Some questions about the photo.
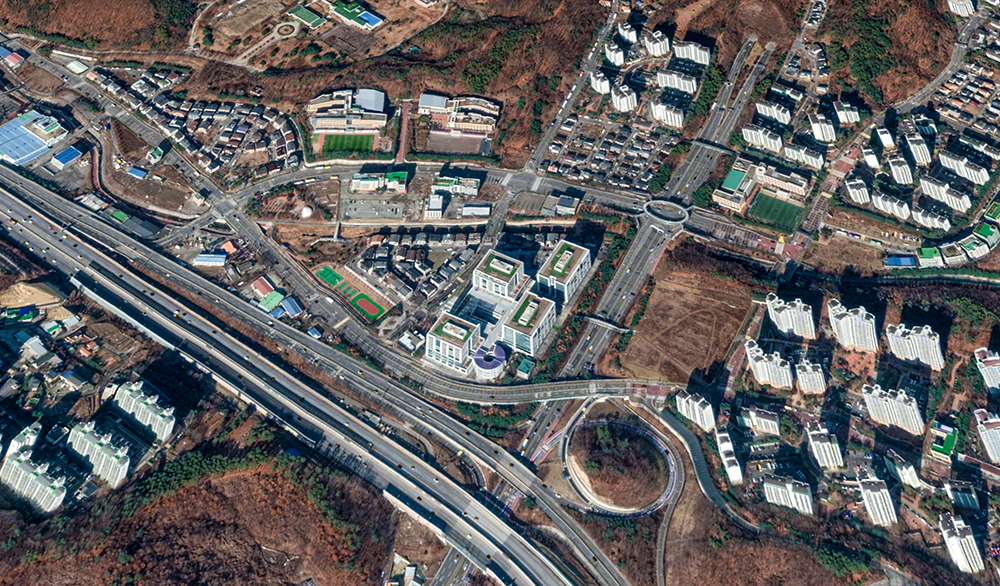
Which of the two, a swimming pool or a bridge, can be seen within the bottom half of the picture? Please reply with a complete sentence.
You can see a bridge within the bottom half of the picture.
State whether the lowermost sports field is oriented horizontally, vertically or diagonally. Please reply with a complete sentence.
What the image shows is the lowermost sports field lying diagonally.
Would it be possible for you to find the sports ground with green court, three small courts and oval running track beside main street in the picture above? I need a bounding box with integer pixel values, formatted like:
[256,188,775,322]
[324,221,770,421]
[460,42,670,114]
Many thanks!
[313,262,393,321]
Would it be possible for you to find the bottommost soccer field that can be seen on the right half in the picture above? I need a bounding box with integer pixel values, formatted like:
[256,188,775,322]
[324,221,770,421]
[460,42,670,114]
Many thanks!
[746,188,807,231]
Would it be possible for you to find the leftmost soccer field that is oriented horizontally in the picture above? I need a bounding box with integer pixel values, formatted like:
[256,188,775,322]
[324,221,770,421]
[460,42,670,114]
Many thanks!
[312,129,380,151]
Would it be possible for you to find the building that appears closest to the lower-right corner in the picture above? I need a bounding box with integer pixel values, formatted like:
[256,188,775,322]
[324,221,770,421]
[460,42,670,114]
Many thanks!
[938,515,979,570]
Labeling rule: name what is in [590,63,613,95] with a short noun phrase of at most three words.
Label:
building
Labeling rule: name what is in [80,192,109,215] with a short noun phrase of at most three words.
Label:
shed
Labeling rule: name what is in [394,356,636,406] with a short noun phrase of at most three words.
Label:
bridge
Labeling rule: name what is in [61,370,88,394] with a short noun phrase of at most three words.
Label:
building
